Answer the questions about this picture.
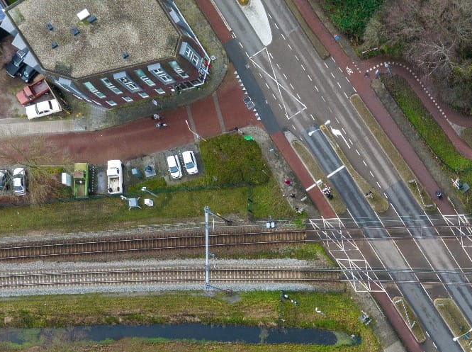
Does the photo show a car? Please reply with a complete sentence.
Yes, there's a car down there.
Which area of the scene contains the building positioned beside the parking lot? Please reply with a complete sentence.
The building positioned beside the parking lot appears toward the top left of the photo.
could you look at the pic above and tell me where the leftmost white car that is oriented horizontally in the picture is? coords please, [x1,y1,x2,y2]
[27,100,62,118]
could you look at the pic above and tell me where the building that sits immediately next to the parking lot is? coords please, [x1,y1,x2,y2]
[3,0,212,102]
